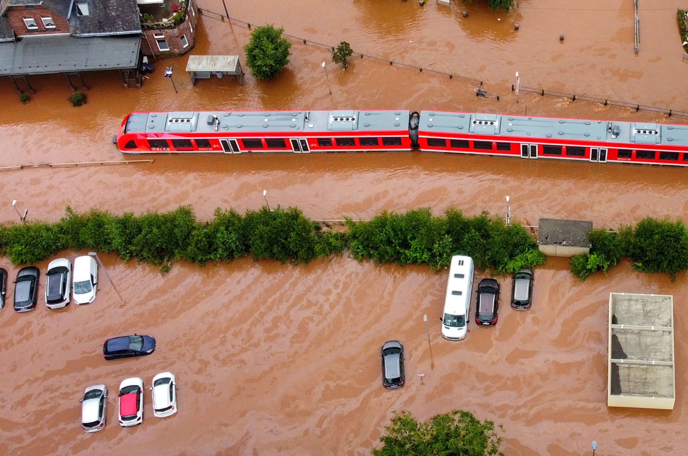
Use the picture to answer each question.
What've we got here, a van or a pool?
van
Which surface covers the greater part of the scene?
water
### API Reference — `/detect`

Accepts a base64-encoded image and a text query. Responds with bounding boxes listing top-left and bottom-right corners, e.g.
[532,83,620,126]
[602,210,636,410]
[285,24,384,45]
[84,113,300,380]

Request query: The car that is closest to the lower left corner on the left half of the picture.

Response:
[79,387,110,432]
